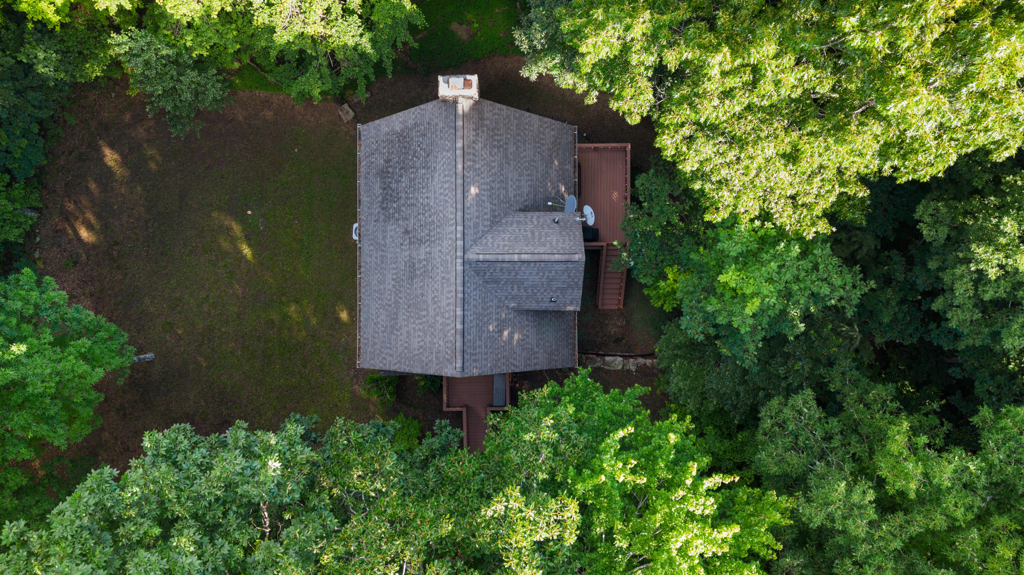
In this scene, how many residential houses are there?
1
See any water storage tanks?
No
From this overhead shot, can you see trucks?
No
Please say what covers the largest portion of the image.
trees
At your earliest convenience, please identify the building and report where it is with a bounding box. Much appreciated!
[357,74,585,378]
